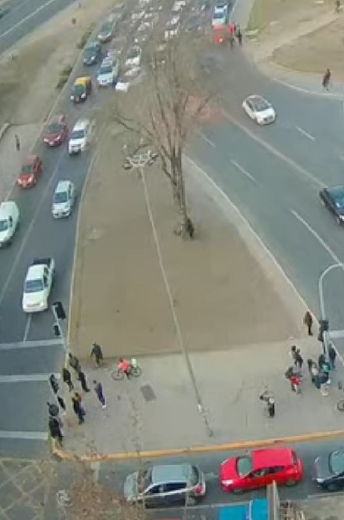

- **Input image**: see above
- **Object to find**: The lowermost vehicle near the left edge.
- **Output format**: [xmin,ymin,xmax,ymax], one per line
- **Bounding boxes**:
[16,256,60,310]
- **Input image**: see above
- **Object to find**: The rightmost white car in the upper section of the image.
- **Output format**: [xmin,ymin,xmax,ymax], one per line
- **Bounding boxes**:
[246,96,273,122]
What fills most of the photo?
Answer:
paved ground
